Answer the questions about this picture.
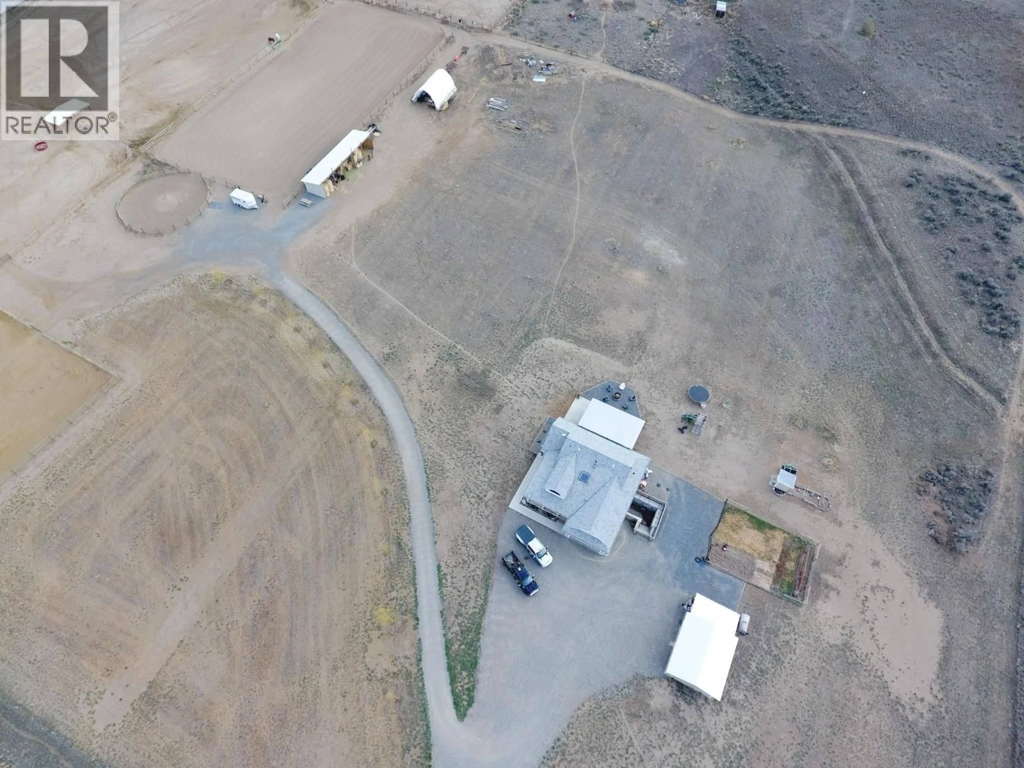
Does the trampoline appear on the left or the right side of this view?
right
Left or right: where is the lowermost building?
right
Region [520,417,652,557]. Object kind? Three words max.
house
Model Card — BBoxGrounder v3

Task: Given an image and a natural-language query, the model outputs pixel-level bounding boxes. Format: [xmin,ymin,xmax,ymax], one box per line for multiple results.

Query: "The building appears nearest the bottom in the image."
[663,593,743,702]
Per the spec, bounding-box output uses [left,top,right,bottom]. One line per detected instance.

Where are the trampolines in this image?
[688,385,710,406]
